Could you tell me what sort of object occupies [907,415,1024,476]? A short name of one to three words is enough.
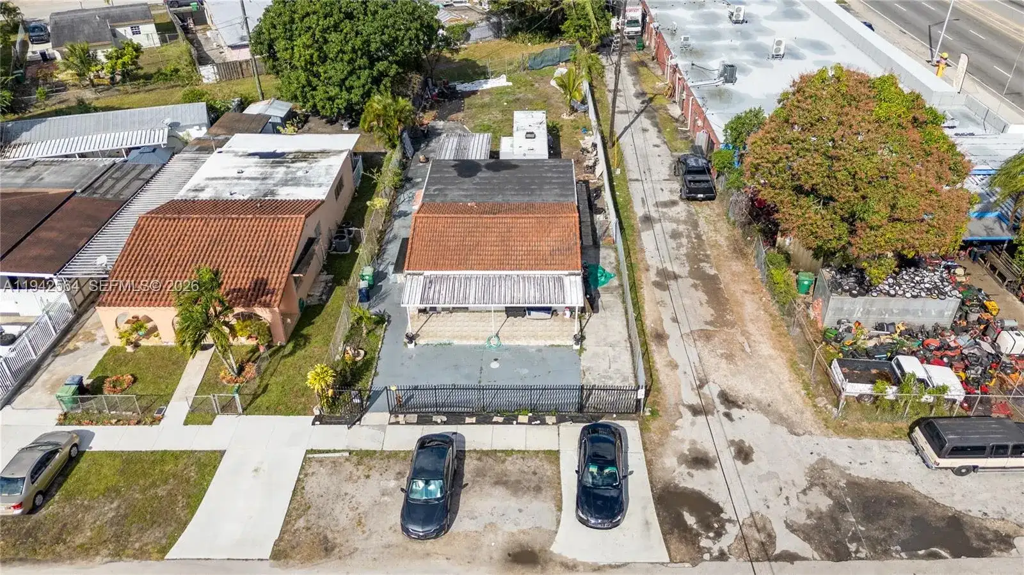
car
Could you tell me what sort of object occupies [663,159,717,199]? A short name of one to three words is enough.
truck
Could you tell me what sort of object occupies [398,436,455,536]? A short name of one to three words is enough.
car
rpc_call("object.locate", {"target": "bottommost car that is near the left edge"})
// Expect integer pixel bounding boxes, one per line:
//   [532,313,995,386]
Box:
[0,429,73,516]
